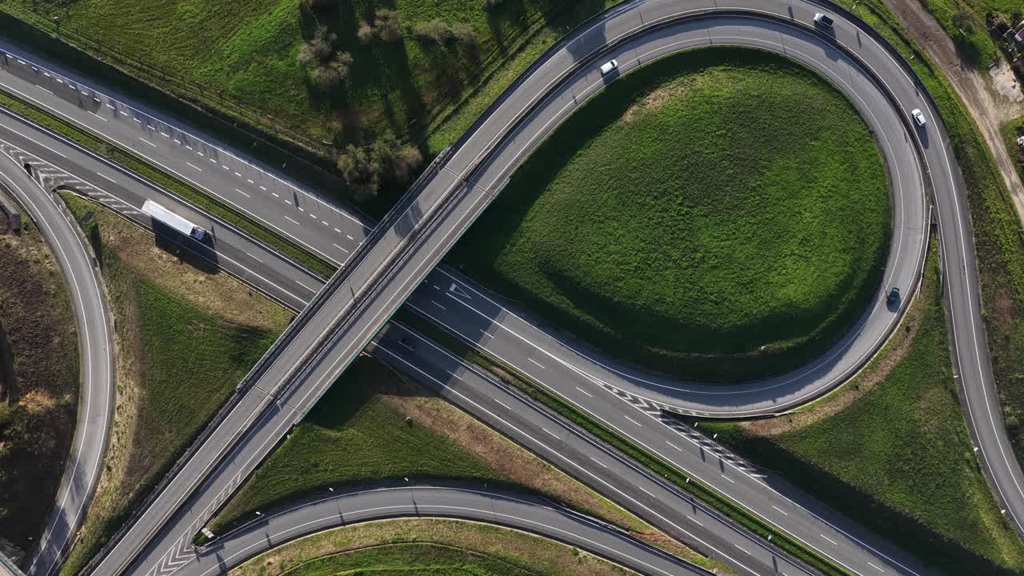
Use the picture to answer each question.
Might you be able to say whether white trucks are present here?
Yes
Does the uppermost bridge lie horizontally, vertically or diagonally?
diagonally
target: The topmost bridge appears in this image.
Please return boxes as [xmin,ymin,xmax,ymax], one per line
[250,164,494,419]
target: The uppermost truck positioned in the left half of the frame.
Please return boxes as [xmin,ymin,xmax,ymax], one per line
[141,203,209,245]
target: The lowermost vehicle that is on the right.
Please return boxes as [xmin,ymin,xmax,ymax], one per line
[888,285,900,304]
